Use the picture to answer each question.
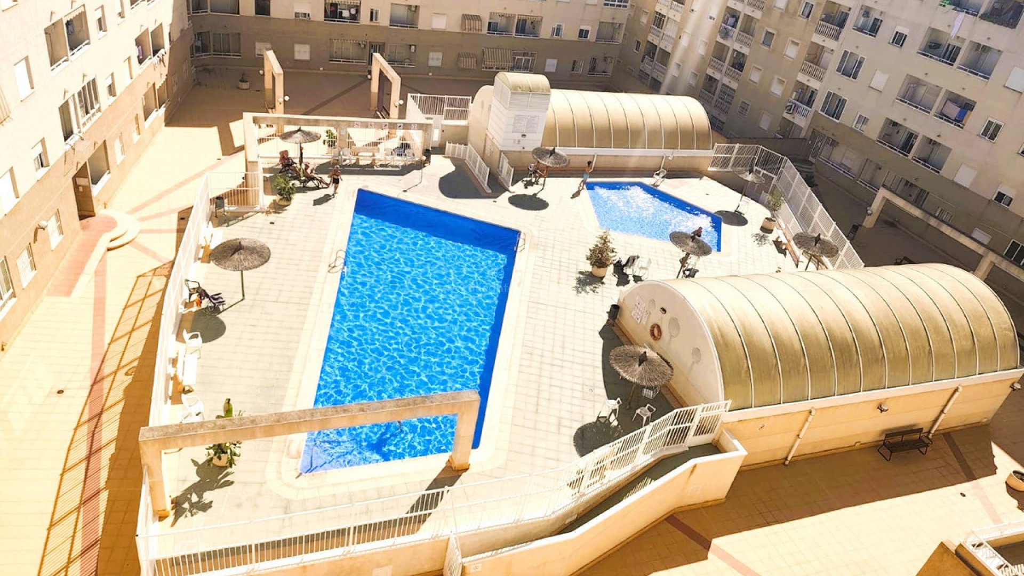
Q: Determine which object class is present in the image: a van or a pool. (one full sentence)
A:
It is a pool that can be seen here.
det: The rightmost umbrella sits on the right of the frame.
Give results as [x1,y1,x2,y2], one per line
[794,226,842,267]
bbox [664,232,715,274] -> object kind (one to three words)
umbrella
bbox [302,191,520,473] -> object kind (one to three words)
swimming pool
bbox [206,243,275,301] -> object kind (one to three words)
umbrella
